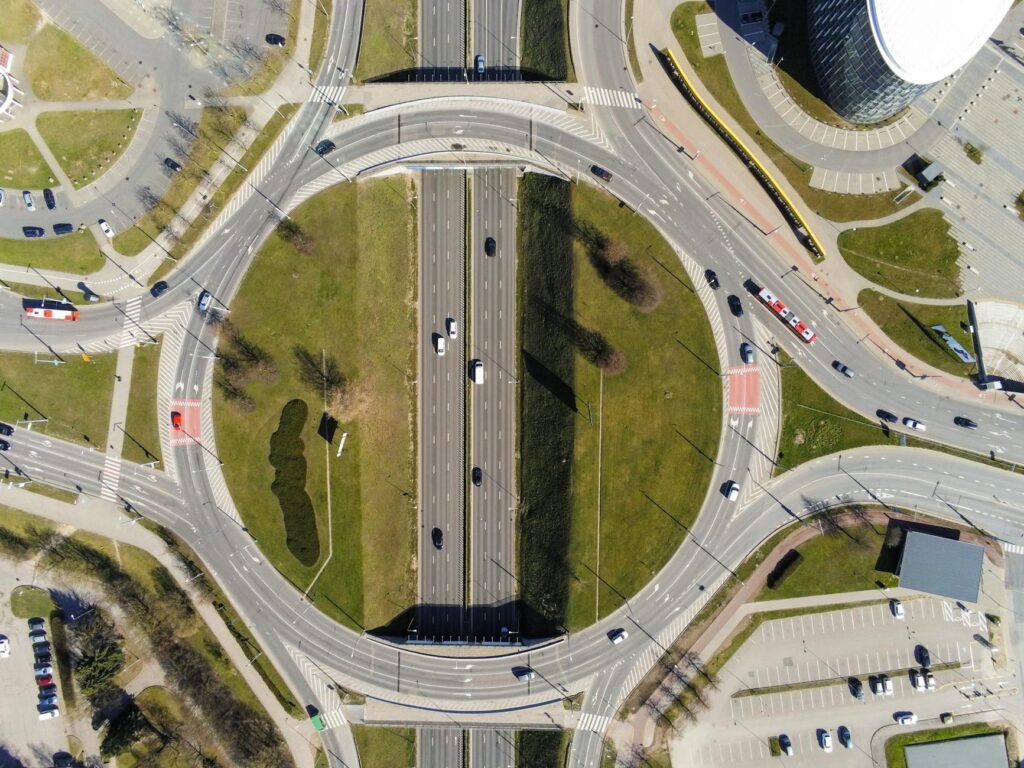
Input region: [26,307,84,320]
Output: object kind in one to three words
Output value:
vehicle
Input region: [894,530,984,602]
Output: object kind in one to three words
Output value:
building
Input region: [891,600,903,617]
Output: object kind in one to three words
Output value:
vehicle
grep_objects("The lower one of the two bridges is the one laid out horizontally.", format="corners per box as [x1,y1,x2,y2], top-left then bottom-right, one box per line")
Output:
[346,632,578,736]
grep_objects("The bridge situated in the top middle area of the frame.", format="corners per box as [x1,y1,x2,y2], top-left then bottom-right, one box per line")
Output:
[346,74,585,178]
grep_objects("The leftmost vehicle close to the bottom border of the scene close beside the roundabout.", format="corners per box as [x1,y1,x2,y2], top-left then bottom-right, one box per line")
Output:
[309,706,327,733]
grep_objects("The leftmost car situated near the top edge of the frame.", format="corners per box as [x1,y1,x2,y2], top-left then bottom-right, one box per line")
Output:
[267,34,286,46]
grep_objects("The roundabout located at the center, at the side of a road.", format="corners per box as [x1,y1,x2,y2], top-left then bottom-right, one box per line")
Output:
[63,100,780,712]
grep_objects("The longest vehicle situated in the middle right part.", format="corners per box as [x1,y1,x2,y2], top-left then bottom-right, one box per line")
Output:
[754,285,816,345]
